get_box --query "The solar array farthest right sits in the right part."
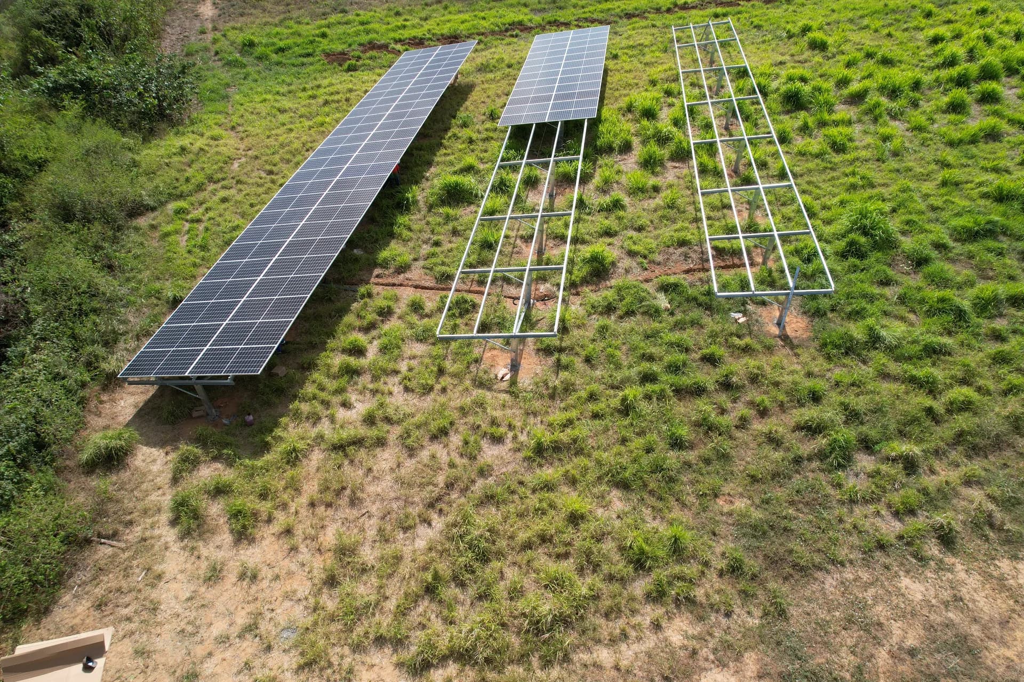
[673,19,833,331]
